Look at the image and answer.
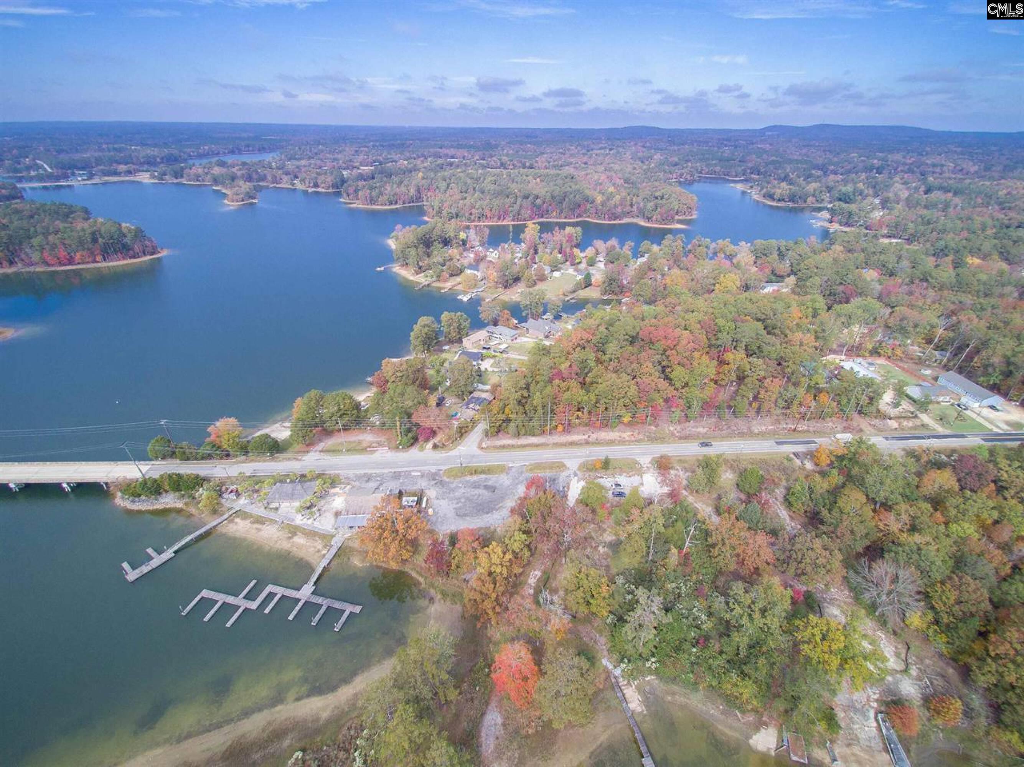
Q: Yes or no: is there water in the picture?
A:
Yes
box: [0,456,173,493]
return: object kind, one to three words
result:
bridge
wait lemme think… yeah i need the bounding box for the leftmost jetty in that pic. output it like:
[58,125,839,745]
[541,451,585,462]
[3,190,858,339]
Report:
[121,544,172,582]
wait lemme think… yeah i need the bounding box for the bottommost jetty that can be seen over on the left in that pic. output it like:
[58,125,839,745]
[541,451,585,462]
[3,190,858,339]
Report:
[178,580,364,632]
